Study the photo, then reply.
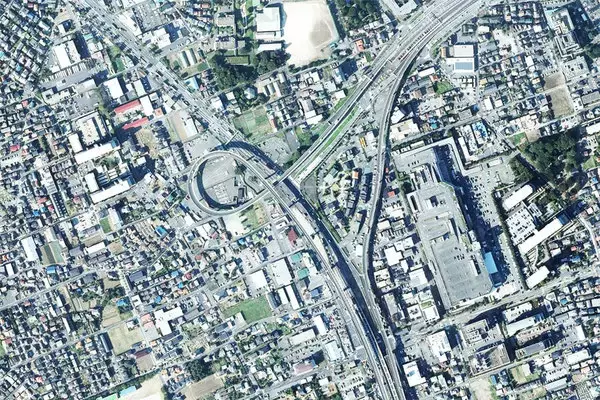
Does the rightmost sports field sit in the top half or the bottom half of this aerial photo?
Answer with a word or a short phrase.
top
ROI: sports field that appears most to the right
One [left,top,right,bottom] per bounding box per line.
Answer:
[281,0,341,65]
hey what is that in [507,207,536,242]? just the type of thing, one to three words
building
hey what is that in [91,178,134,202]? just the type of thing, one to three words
building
